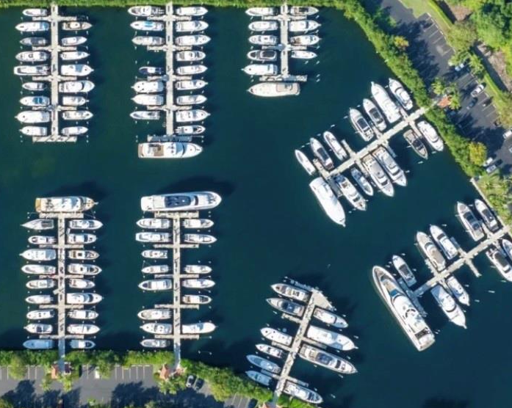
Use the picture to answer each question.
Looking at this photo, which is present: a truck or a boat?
boat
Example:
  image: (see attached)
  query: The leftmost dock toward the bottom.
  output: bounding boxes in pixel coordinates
[38,212,83,377]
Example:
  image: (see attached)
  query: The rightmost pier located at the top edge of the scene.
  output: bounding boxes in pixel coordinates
[261,0,307,81]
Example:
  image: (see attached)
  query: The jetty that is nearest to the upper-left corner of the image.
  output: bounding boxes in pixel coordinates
[32,4,75,141]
